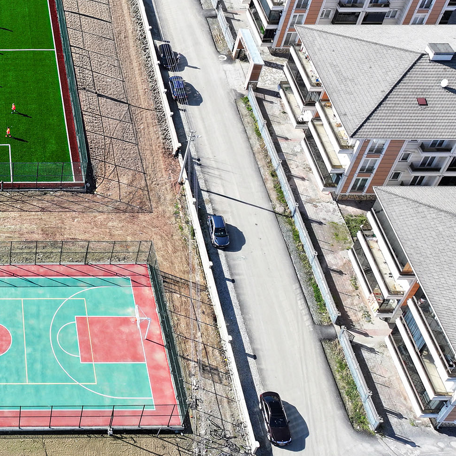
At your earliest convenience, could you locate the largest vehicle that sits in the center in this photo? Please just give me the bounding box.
[207,207,234,246]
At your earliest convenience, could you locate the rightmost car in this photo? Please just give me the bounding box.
[257,385,298,442]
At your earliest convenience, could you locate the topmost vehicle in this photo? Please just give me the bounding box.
[160,38,179,65]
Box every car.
[257,385,298,442]
[207,207,234,246]
[170,73,191,98]
[160,38,179,65]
